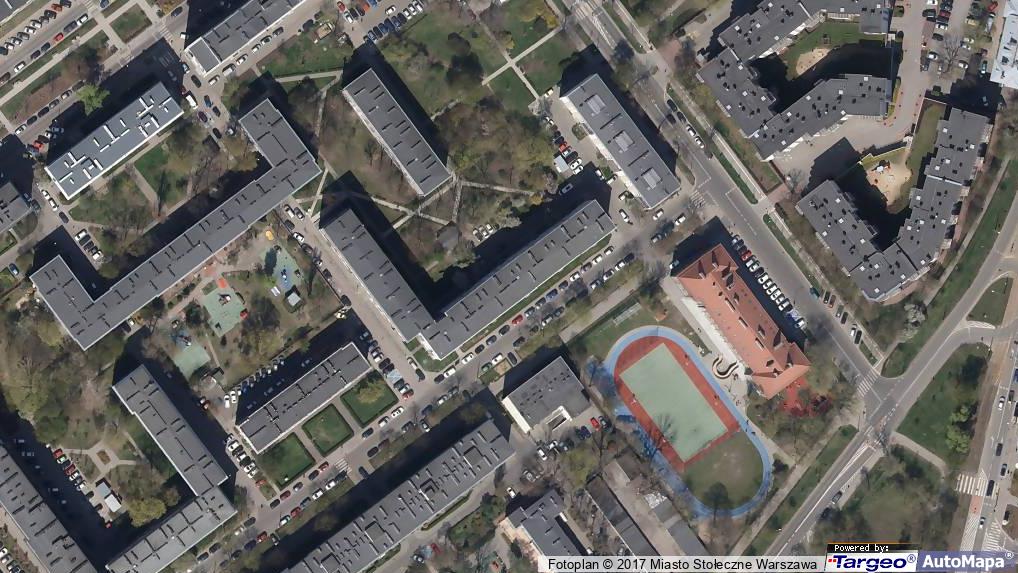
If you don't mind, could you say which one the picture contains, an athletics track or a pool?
athletics track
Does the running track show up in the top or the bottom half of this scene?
bottom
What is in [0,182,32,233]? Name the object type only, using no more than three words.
building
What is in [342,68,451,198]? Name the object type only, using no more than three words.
building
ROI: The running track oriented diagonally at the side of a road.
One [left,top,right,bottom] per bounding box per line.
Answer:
[603,324,775,521]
